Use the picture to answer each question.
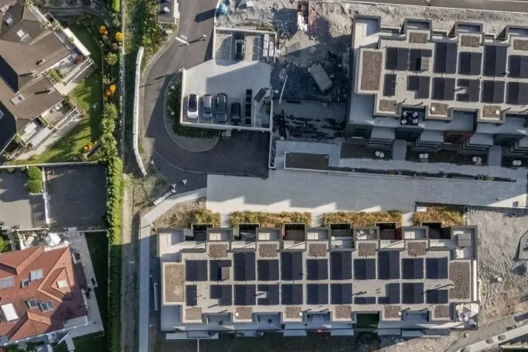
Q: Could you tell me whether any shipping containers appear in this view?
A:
Yes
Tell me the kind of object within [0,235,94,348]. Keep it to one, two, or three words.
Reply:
house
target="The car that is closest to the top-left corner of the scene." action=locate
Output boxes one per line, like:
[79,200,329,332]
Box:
[185,92,197,119]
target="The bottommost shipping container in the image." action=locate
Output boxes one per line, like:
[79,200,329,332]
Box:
[307,62,335,97]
